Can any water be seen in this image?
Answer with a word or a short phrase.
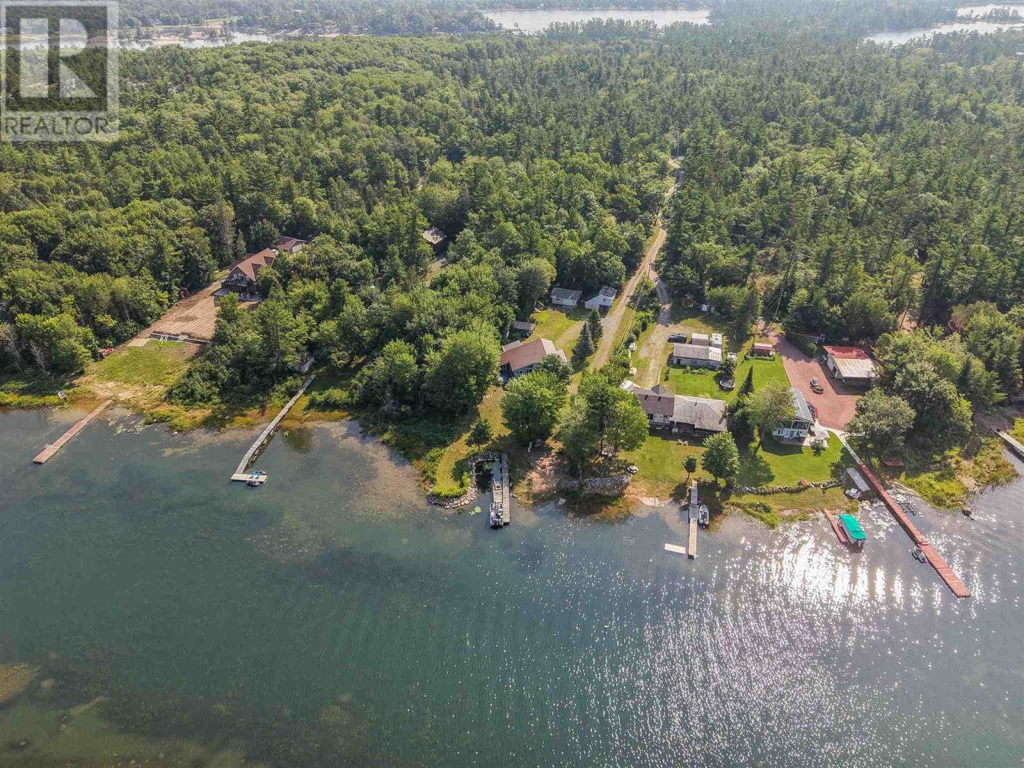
Yes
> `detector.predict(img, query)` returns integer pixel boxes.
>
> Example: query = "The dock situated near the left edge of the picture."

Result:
[33,401,113,462]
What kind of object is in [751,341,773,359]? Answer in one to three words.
shed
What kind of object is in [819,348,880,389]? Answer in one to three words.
building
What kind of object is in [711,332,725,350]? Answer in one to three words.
vehicle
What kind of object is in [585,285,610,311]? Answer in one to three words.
building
